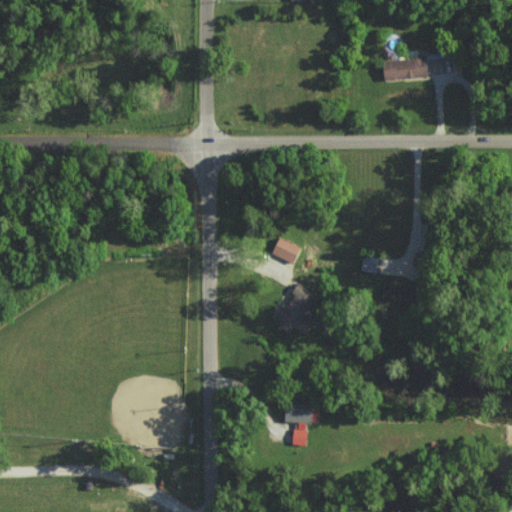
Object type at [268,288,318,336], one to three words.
house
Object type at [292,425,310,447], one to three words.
building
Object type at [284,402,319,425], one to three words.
house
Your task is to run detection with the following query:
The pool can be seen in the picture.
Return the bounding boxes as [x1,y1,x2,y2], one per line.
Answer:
[384,37,400,60]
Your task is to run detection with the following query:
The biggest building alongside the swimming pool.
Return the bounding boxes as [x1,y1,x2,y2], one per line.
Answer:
[384,58,429,84]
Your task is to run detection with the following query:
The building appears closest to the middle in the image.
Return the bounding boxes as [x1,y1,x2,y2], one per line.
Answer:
[272,236,302,264]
